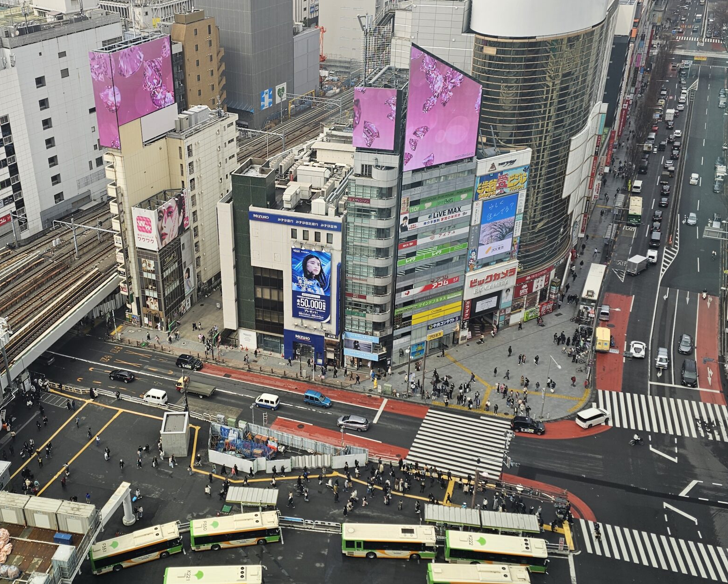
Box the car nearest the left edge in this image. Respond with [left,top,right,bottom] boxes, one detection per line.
[37,351,61,366]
